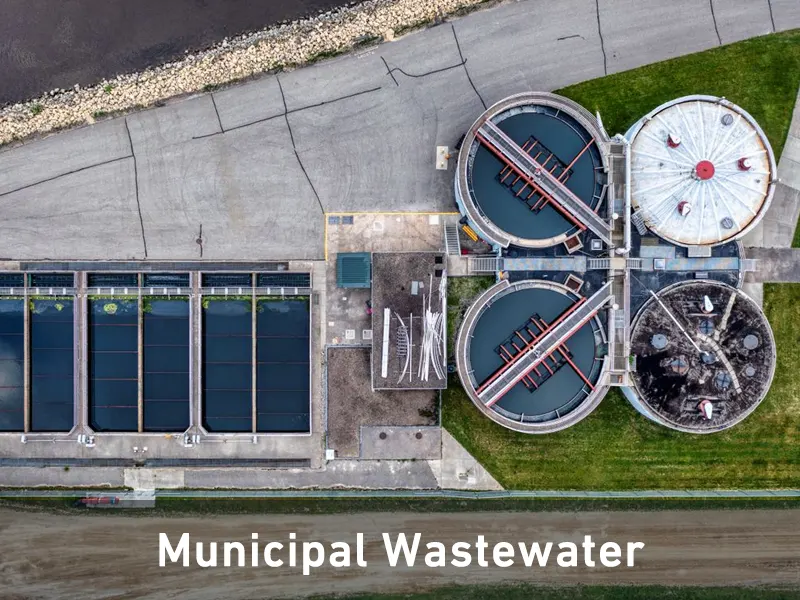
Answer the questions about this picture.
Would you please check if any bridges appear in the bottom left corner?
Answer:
No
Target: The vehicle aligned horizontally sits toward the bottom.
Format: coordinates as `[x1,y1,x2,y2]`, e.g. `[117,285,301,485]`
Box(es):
[79,496,118,512]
